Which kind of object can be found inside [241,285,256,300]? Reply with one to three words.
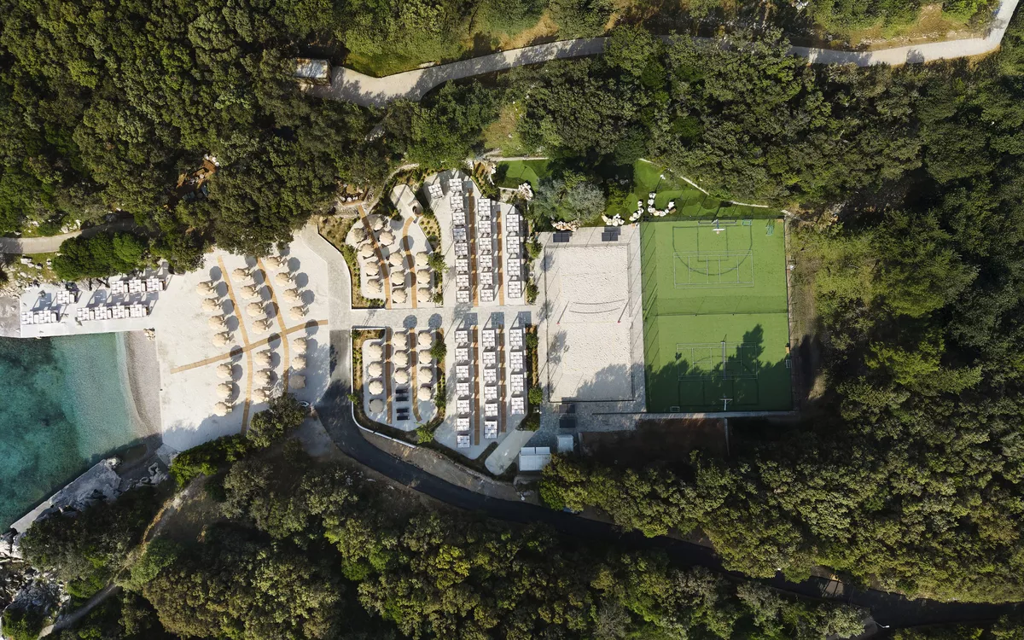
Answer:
umbrella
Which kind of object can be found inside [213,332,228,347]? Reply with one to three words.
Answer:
umbrella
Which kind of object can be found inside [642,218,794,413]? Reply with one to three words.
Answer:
sports court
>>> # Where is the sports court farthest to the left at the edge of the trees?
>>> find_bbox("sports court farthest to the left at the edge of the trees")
[545,246,633,401]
